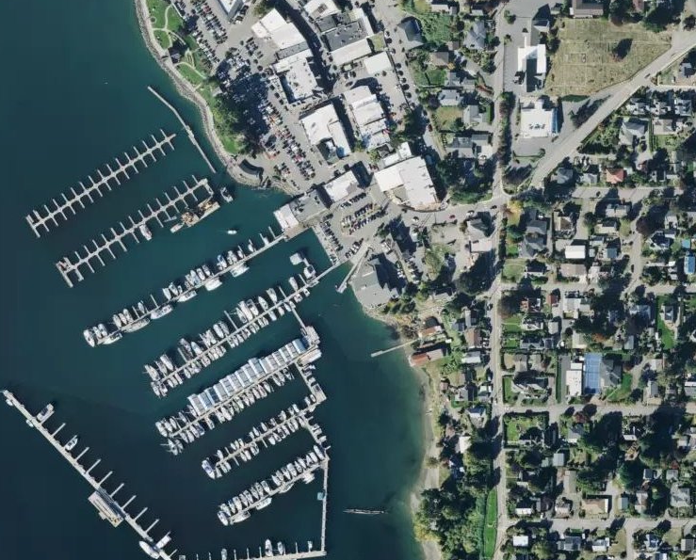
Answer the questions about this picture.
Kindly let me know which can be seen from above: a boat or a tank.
boat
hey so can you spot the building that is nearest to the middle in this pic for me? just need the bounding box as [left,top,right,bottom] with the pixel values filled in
[346,259,398,309]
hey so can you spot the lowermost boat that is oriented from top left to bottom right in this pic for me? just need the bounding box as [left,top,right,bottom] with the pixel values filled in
[140,542,162,560]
